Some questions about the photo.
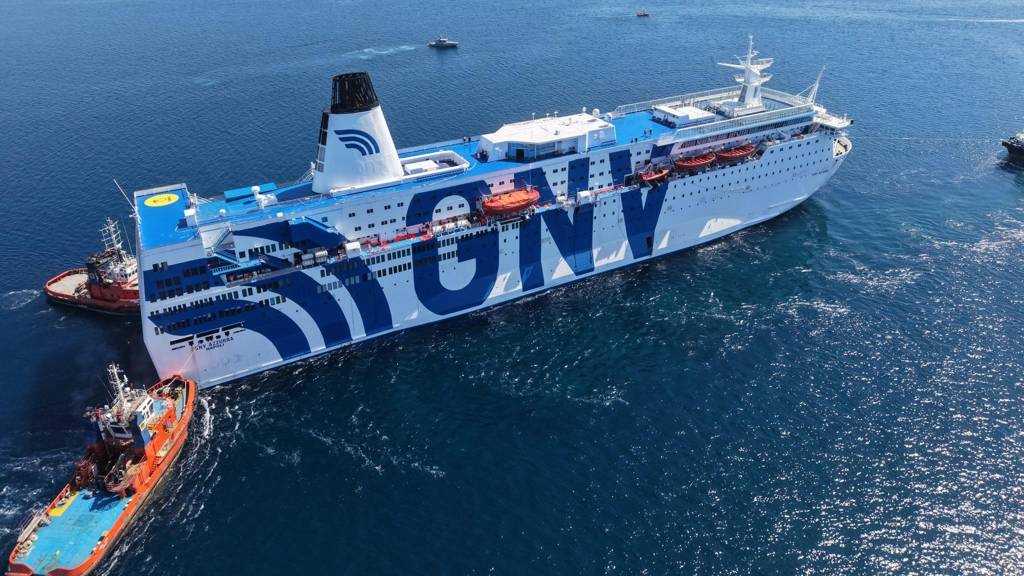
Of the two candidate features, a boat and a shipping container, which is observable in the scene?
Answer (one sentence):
Visible in the photo is a boat.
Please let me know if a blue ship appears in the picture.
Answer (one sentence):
Yes, there's a blue ship here.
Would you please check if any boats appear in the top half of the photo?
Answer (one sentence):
Yes, I can see a boat in the top half of the photo.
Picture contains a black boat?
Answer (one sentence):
Yes, a black boat appears in the view.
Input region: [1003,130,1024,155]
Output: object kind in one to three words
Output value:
boat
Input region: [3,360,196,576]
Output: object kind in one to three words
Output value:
boat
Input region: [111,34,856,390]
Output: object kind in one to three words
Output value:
ship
